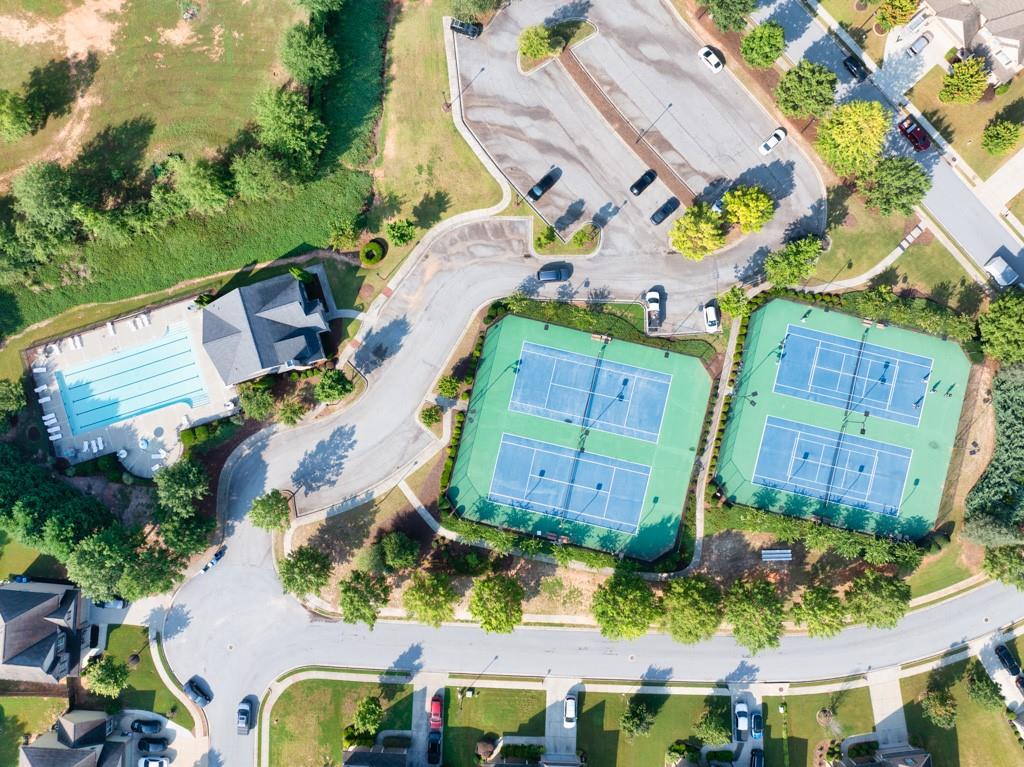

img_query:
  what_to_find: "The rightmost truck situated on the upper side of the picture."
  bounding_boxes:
[981,251,1018,287]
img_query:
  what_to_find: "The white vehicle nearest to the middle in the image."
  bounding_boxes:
[646,292,661,330]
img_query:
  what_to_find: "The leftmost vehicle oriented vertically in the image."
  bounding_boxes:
[236,696,252,733]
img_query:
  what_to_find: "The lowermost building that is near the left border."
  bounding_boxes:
[21,704,140,767]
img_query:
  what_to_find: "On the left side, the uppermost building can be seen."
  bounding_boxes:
[202,276,332,383]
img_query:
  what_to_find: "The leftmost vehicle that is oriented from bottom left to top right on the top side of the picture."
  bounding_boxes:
[529,172,556,200]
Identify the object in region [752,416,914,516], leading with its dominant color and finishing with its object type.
blue tennis court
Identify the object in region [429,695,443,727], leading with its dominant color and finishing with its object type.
red car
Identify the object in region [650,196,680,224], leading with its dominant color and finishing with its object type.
blue car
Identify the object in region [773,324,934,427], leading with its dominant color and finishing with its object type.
blue tennis court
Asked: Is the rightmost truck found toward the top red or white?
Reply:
white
